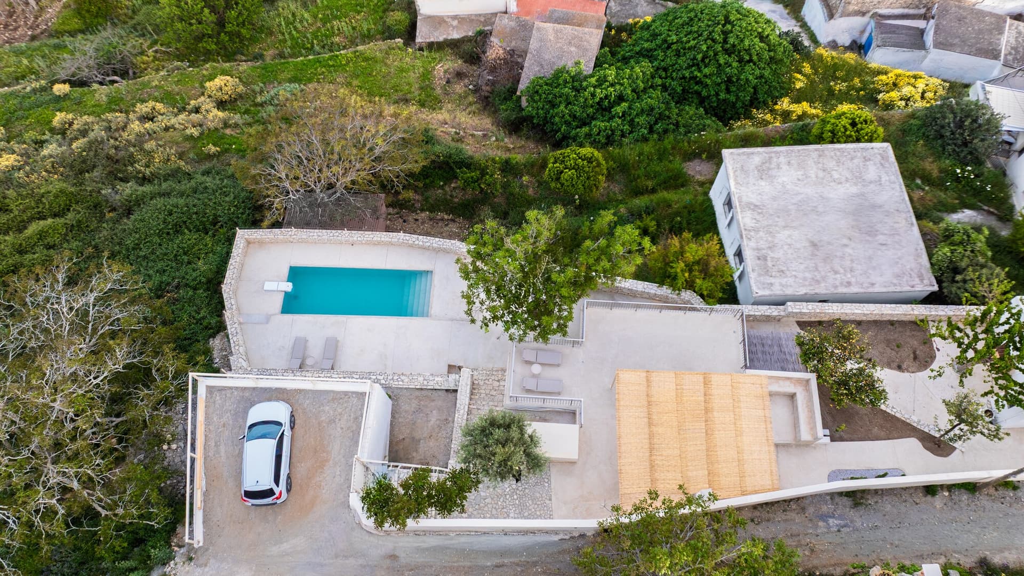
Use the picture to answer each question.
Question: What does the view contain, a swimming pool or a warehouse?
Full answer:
I can see a swimming pool in this picture.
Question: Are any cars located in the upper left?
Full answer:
No, no car can be made out in the upper left.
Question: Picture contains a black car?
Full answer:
No, no black car can be seen from above.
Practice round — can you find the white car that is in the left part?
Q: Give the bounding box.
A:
[240,405,294,510]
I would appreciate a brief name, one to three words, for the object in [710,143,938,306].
house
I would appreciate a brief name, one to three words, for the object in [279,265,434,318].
swimming pool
